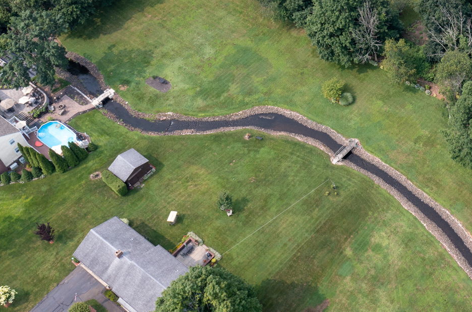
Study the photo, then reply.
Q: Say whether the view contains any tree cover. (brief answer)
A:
Yes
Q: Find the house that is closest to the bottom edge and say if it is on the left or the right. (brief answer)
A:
left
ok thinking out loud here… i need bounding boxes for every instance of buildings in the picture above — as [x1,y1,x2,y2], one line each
[108,149,150,188]
[73,217,217,312]
[0,108,30,173]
